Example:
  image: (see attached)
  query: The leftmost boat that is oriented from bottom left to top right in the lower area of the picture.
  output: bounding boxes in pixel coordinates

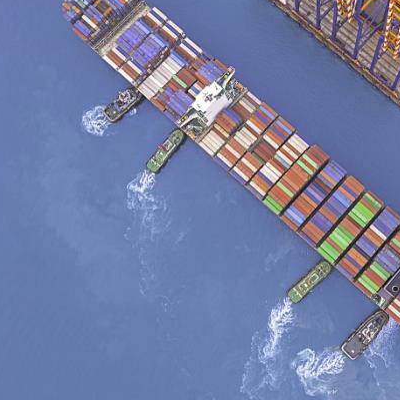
[289,261,332,302]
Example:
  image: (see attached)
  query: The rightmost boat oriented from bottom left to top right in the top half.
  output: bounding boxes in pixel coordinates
[148,130,187,173]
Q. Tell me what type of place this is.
port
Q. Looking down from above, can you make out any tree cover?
No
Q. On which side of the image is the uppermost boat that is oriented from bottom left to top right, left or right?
left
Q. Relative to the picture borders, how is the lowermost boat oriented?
diagonally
